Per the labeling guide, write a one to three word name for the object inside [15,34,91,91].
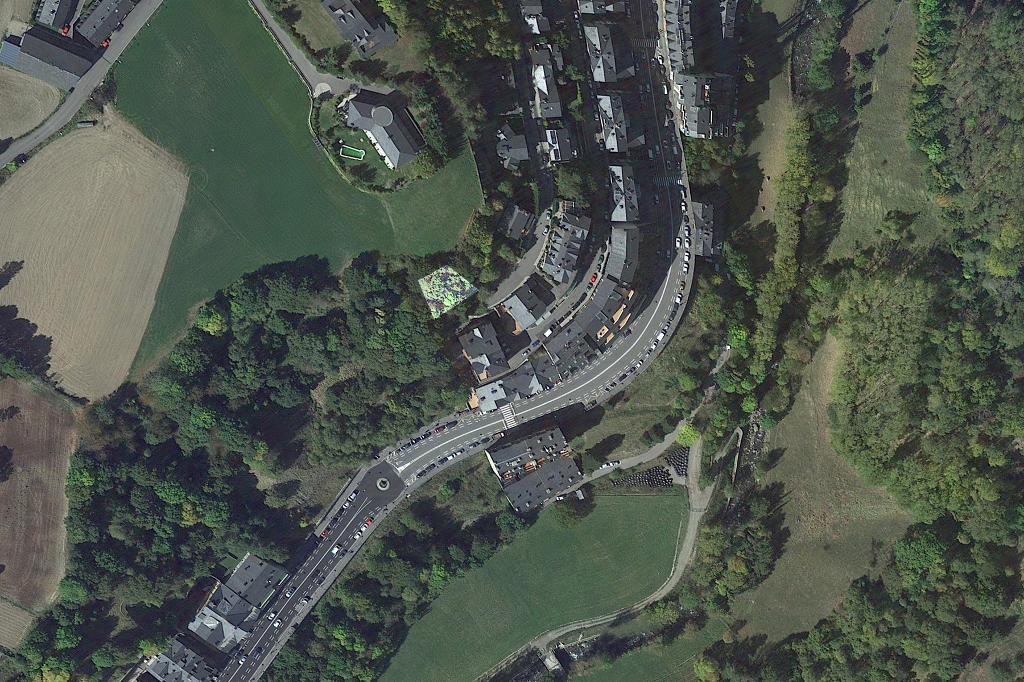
barn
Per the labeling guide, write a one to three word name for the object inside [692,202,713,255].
house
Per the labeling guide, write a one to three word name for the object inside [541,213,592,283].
house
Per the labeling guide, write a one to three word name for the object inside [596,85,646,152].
building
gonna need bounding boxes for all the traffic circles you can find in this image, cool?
[354,461,406,509]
